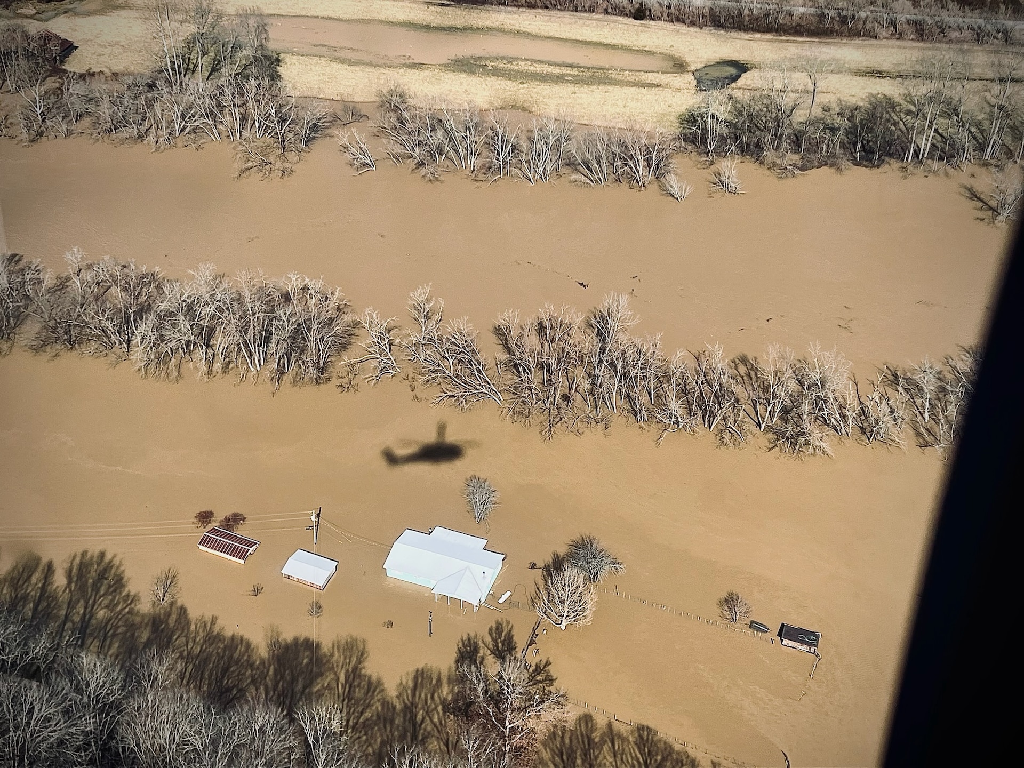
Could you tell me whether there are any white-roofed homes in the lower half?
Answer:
Yes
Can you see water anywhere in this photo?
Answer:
Yes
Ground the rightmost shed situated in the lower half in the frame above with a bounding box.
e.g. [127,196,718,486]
[782,622,822,654]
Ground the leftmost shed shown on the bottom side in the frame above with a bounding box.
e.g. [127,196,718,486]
[196,527,262,564]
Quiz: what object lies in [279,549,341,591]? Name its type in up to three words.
shed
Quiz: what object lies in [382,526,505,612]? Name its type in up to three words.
house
